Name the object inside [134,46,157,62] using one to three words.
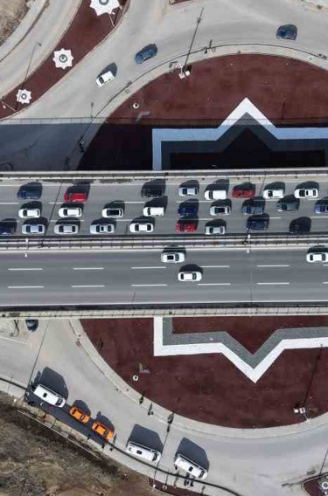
car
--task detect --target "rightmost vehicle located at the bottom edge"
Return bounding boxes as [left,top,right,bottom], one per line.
[172,453,208,477]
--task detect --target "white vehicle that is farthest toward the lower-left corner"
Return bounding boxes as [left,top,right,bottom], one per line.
[30,381,67,408]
